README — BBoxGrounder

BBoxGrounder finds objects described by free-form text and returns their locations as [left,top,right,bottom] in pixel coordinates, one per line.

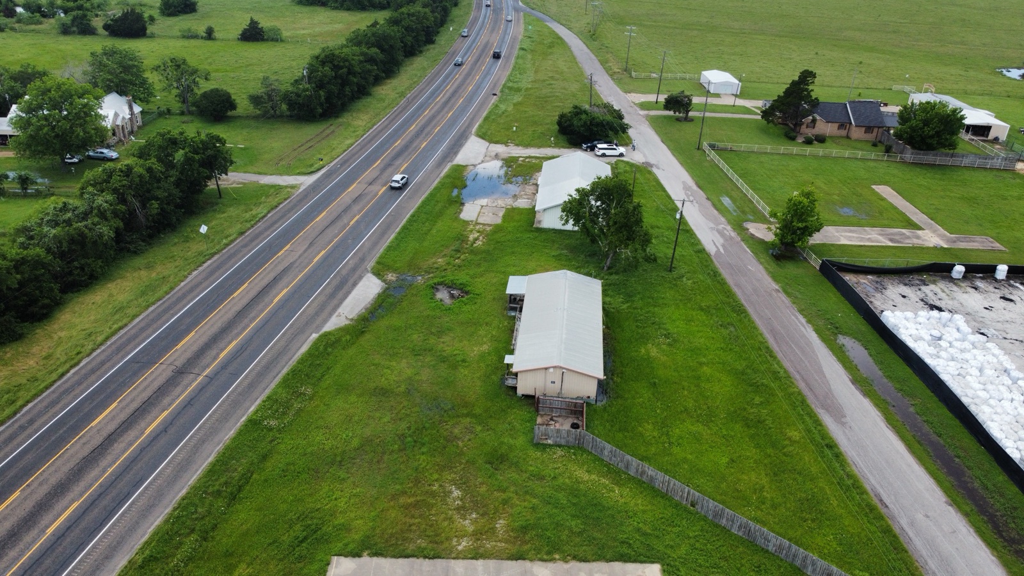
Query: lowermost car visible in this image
[387,174,408,188]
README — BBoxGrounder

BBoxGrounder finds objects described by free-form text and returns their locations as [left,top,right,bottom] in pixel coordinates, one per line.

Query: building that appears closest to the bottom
[503,270,605,402]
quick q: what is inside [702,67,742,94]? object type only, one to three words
building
